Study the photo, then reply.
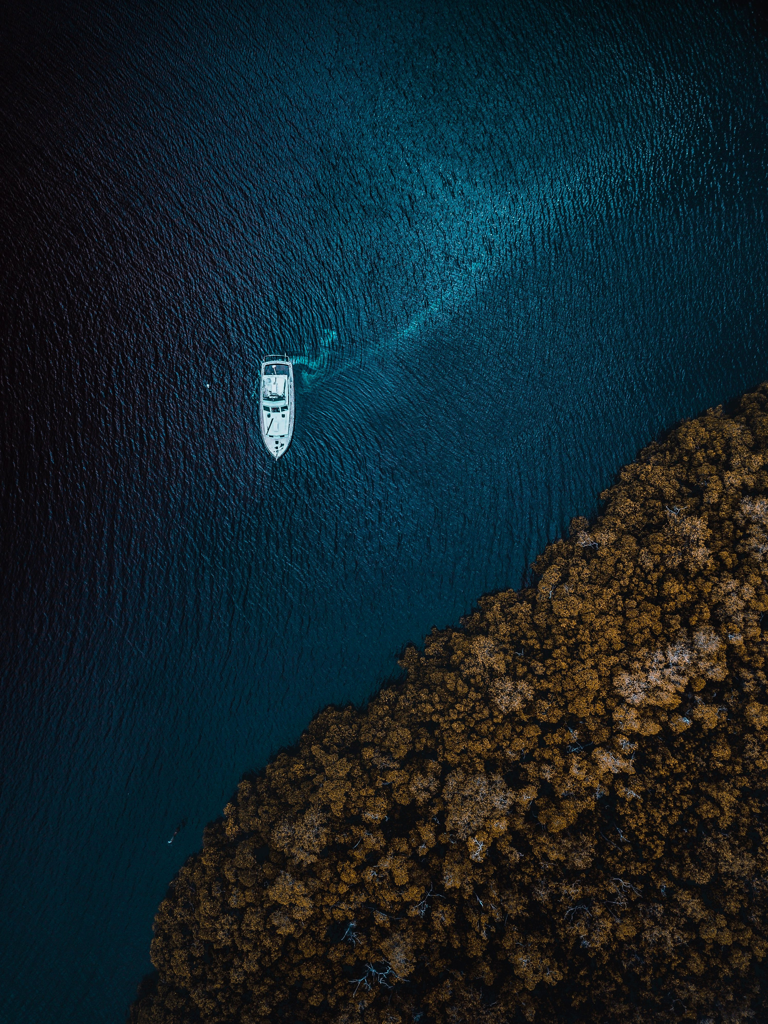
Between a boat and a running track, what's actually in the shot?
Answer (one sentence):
There is a boat in the scene.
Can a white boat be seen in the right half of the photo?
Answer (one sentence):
No, no white boat can be made out in the right half of the photo.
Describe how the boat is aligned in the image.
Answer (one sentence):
In this picture, the boat lies up and down.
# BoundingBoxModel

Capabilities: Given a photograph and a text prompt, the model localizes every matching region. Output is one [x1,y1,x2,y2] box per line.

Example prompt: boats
[259,353,296,461]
